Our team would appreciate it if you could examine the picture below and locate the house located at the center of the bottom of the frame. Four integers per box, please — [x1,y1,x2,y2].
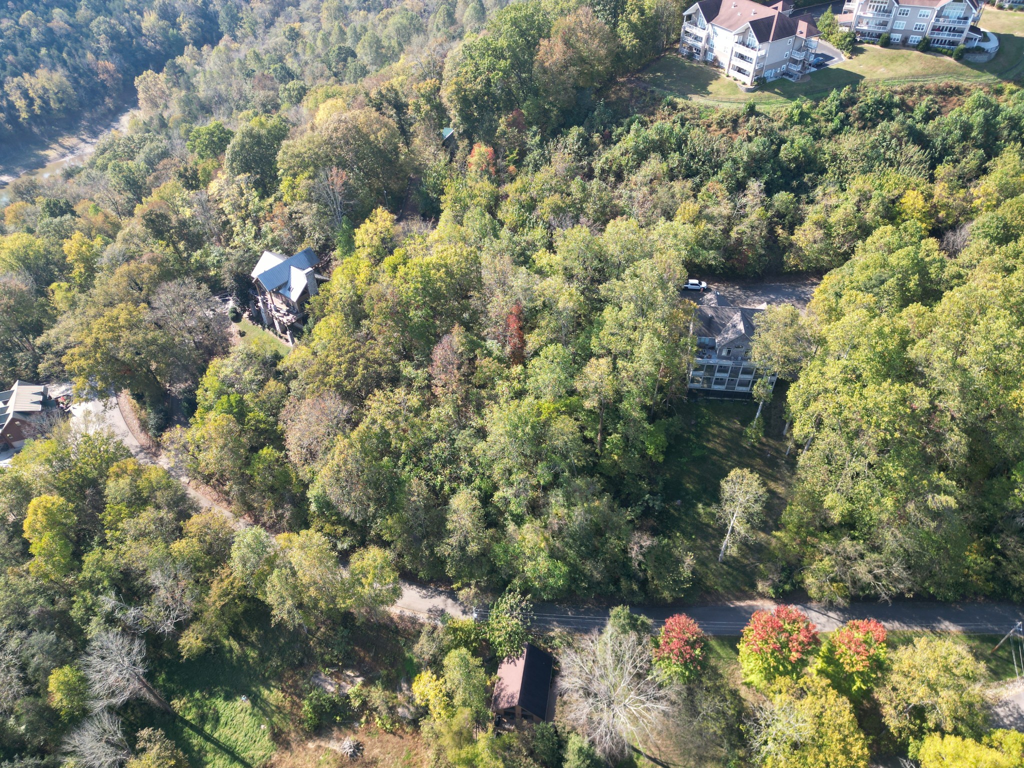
[488,644,556,743]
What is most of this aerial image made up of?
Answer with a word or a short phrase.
trees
